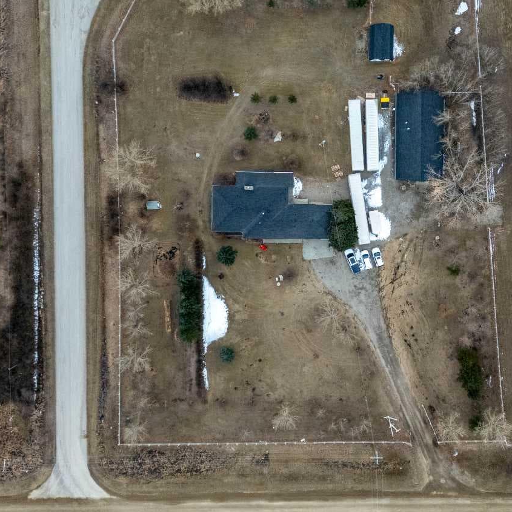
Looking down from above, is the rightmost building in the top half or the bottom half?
top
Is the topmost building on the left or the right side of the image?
right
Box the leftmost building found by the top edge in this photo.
[368,22,393,66]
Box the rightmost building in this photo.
[393,89,445,181]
